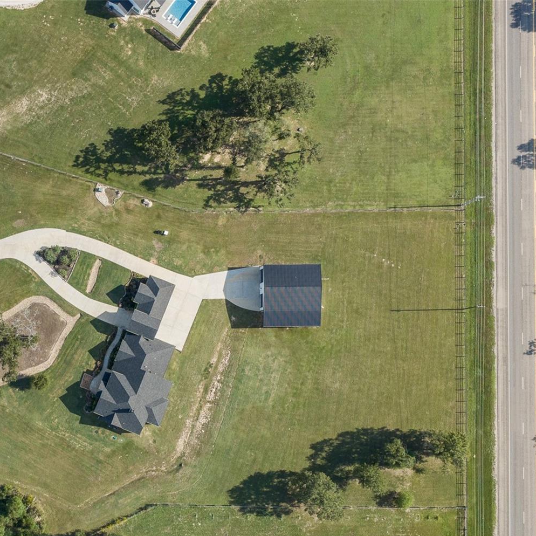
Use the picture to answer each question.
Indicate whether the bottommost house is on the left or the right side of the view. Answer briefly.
left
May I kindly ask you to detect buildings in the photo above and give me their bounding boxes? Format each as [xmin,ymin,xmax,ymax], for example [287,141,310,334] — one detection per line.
[108,0,150,17]
[260,264,329,327]
[93,332,176,435]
